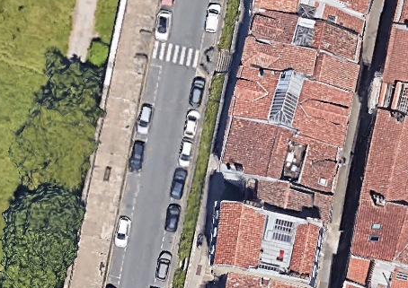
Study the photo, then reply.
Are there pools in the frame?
No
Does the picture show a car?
Yes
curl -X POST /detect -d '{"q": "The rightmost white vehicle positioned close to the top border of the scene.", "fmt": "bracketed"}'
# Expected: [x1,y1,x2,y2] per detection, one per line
[203,1,224,37]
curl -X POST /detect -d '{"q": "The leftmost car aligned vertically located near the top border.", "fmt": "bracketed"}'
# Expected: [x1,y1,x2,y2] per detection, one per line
[155,7,174,43]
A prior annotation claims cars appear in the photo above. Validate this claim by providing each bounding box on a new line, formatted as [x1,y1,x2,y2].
[189,74,209,110]
[156,250,174,282]
[184,107,202,138]
[114,214,134,249]
[177,137,196,169]
[170,166,189,201]
[129,138,149,174]
[136,103,156,135]
[155,7,174,43]
[164,201,183,233]
[203,1,224,37]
